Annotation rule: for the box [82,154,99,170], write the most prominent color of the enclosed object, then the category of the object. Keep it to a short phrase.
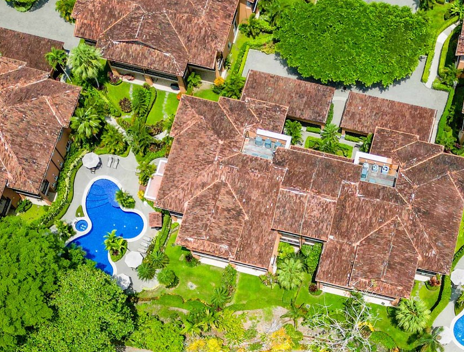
white umbrella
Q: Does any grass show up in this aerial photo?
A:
Yes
